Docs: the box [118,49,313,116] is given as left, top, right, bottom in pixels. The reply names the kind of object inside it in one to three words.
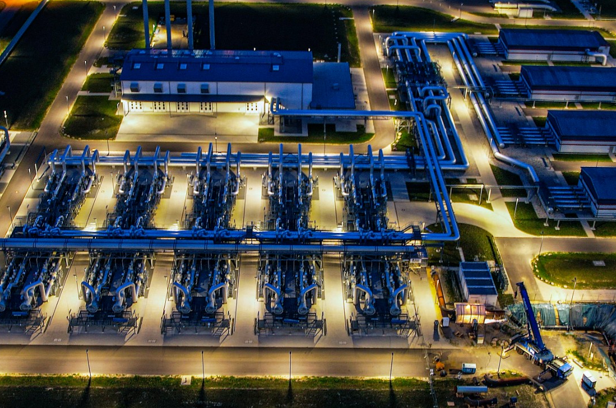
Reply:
building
